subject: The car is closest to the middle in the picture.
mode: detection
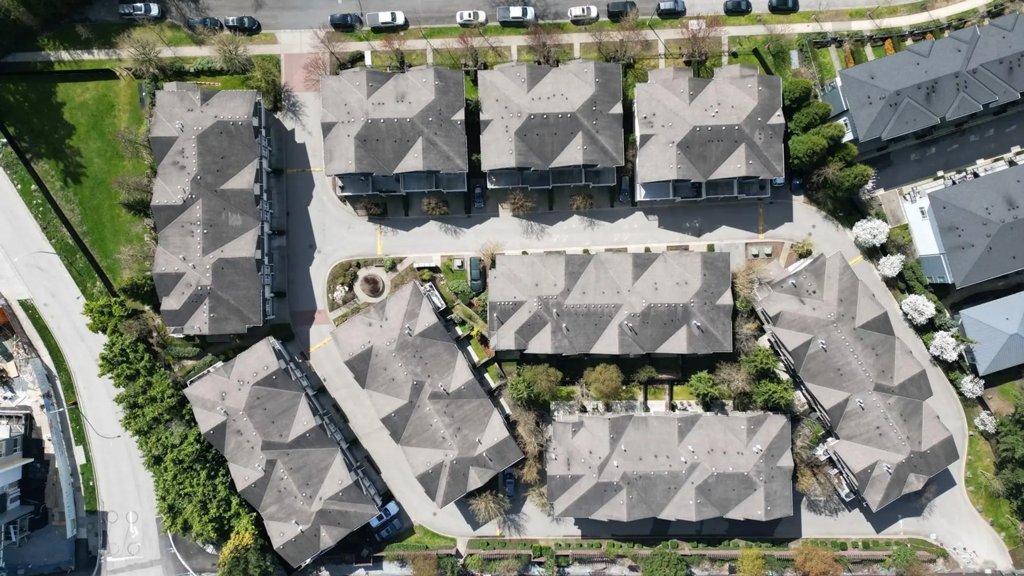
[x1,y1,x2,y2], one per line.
[469,258,484,292]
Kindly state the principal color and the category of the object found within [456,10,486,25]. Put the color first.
white car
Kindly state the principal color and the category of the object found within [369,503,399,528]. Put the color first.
blue car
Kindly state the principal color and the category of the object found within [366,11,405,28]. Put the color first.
white vehicle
